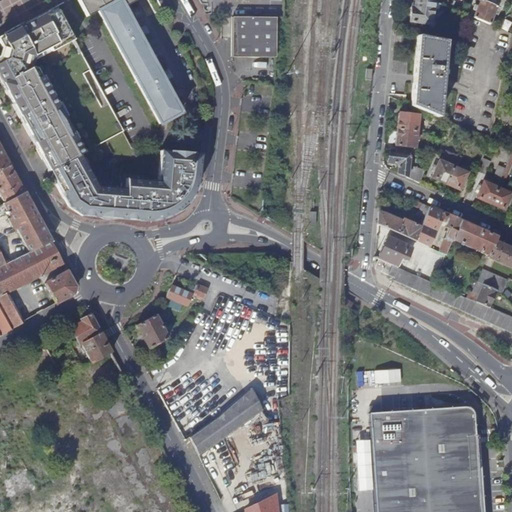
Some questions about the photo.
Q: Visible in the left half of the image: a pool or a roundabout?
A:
roundabout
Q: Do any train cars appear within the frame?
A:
No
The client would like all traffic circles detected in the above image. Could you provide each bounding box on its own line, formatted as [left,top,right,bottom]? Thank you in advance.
[77,226,156,302]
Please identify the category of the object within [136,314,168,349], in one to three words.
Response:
house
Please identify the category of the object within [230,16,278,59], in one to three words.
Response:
building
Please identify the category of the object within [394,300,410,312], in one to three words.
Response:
vehicle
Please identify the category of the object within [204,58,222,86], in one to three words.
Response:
vehicle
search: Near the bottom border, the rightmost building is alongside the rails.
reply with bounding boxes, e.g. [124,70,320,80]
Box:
[368,406,486,512]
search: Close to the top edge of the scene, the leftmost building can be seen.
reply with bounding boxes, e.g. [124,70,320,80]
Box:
[0,4,76,64]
